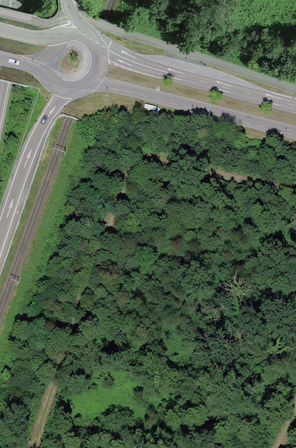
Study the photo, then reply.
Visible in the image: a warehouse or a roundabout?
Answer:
roundabout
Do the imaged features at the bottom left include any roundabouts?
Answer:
No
